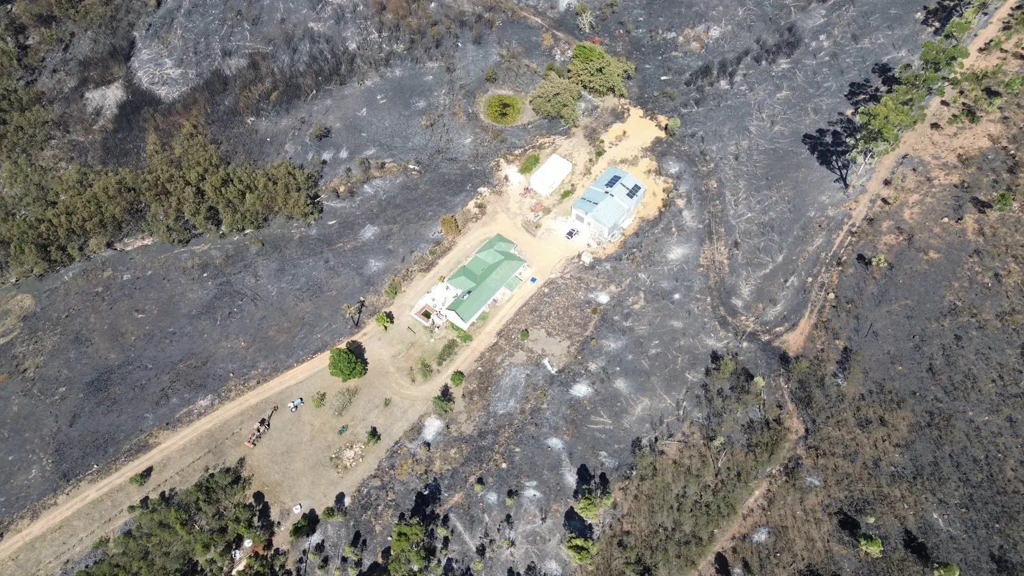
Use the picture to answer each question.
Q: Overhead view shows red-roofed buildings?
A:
No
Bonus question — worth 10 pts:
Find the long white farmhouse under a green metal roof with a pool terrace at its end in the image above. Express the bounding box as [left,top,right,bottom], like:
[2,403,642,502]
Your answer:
[446,232,535,331]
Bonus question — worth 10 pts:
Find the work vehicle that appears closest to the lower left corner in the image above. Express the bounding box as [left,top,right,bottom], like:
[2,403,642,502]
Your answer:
[246,408,277,448]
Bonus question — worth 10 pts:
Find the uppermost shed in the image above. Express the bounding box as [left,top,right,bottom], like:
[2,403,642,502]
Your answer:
[530,153,573,193]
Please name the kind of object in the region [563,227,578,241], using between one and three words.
vehicle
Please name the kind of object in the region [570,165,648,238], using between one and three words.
shed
